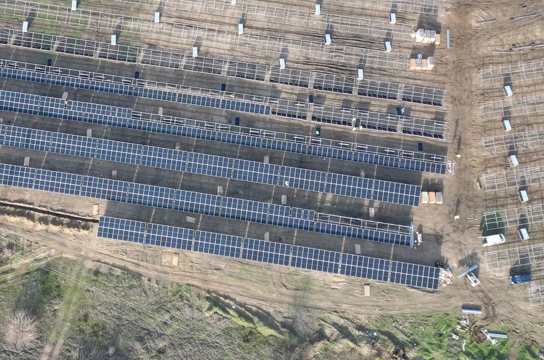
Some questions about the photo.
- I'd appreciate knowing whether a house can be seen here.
No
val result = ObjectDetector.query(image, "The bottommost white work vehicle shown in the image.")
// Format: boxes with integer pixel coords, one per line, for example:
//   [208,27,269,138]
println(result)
[463,269,481,288]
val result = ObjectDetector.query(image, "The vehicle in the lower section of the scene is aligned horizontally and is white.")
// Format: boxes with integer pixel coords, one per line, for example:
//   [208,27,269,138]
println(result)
[478,232,507,245]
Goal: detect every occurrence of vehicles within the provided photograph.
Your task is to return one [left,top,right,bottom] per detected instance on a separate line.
[478,232,507,245]
[463,269,481,288]
[508,273,533,284]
